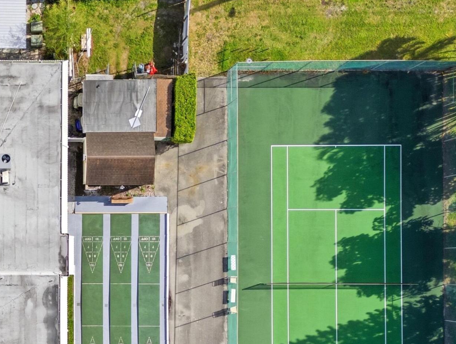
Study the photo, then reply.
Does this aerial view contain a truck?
No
